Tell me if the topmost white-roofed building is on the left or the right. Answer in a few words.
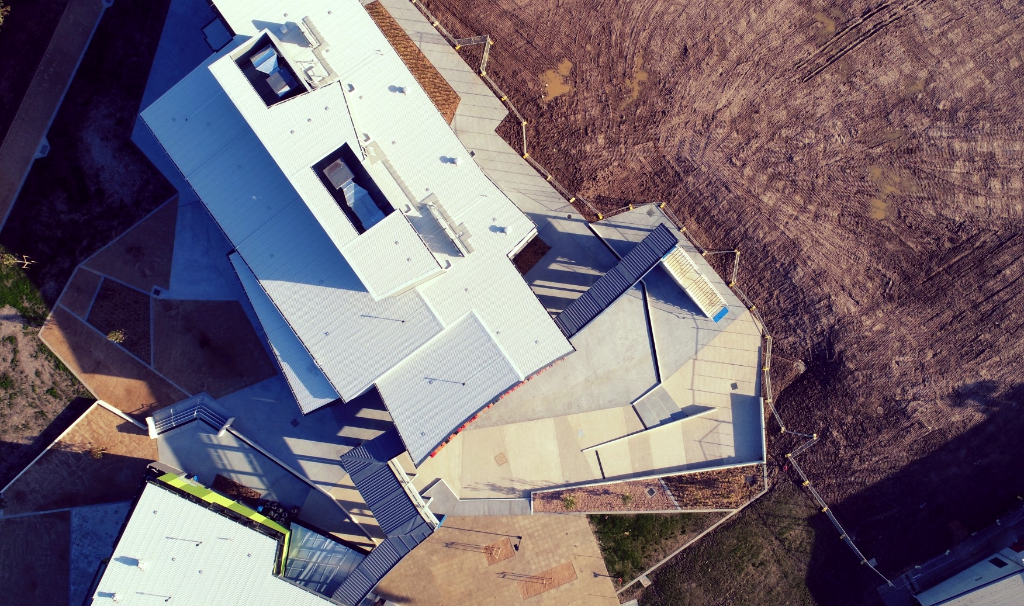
left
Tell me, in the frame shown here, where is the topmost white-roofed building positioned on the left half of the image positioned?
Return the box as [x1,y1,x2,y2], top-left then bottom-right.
[139,0,577,466]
